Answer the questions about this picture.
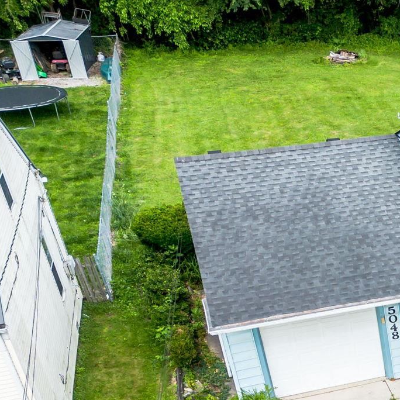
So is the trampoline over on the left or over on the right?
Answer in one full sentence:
The trampoline appears in the left half of the scene.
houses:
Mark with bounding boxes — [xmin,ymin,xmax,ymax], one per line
[173,129,400,400]
[0,89,83,400]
